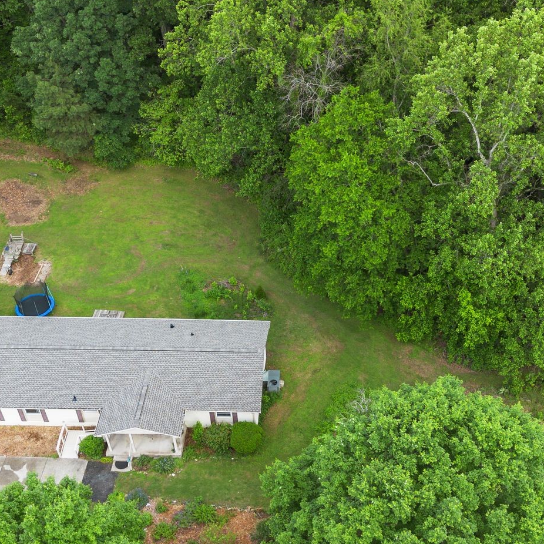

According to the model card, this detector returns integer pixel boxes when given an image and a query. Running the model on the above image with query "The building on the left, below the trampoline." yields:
[0,314,270,474]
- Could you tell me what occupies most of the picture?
trees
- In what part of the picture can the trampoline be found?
left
